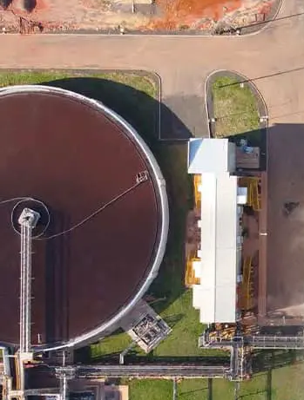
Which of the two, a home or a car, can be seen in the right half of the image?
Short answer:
home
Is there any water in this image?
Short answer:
Yes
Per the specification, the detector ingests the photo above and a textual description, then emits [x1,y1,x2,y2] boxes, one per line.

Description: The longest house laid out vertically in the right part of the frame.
[188,137,245,323]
